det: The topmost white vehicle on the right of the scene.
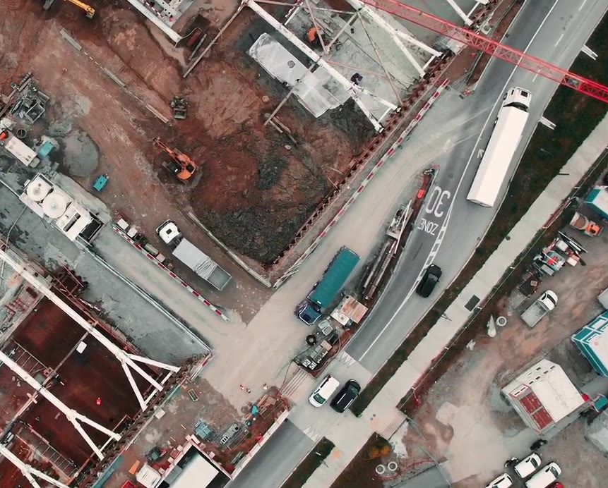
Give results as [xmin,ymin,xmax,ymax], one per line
[463,89,532,210]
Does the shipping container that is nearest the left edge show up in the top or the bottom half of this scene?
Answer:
top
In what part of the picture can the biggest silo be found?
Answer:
left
